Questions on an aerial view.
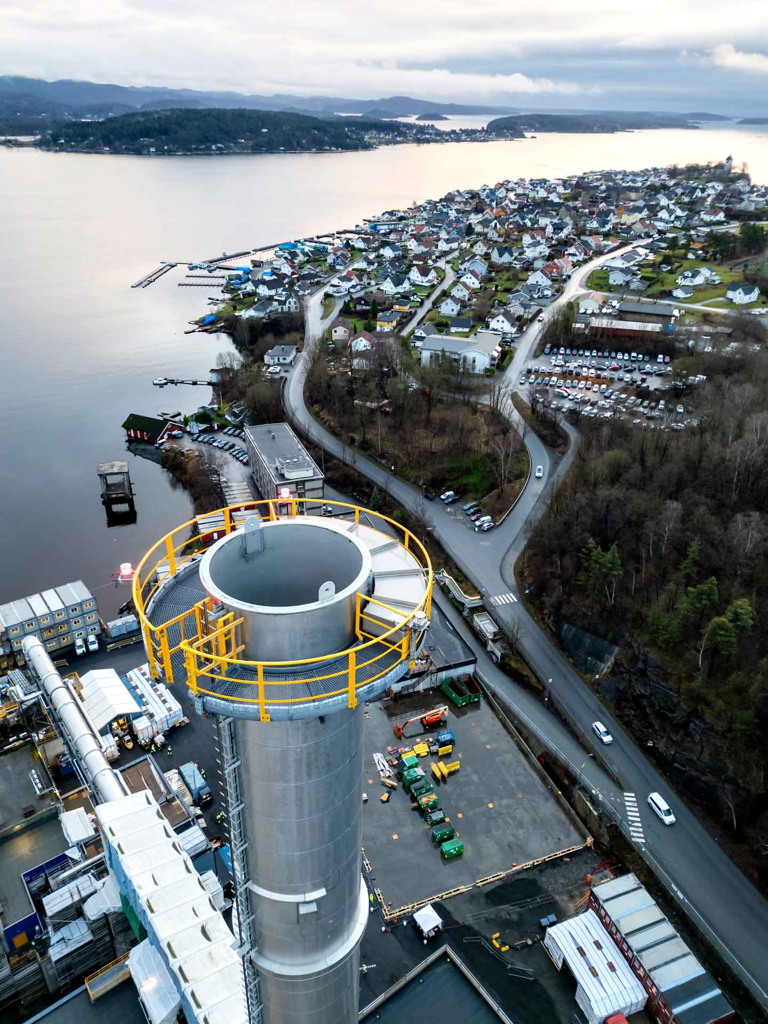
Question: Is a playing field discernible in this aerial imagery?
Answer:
No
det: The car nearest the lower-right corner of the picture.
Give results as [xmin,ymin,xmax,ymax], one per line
[647,784,679,824]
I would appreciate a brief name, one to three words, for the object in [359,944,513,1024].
building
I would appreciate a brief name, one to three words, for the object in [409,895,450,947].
tent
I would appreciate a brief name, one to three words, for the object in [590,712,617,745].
car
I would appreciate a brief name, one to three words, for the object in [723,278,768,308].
house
